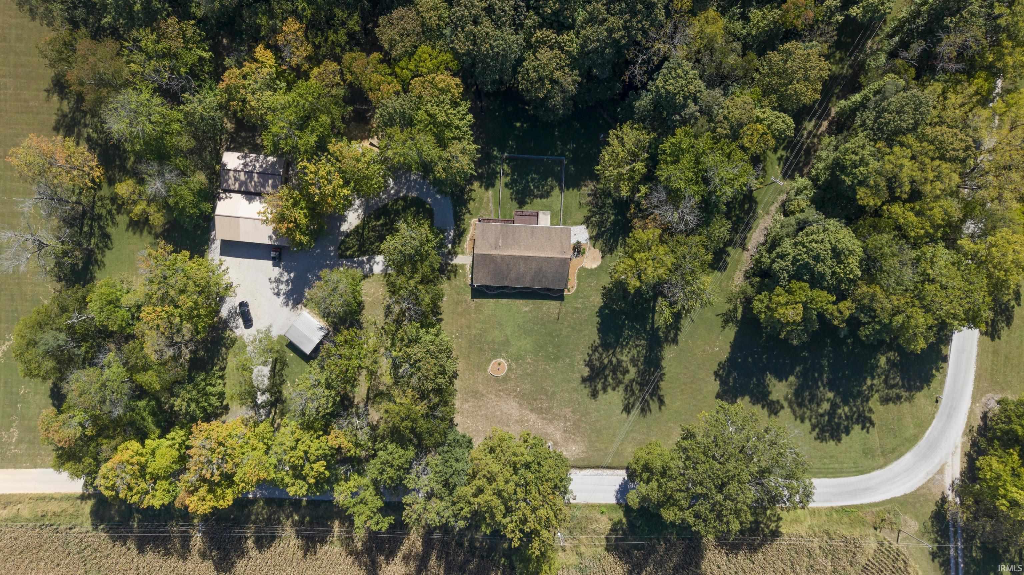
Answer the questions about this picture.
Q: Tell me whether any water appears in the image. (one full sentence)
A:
No, there is no water in the image.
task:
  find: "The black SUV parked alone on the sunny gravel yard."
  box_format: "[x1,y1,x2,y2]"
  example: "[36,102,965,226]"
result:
[237,301,255,330]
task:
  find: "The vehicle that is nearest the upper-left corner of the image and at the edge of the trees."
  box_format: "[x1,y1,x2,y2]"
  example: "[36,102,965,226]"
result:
[270,246,282,262]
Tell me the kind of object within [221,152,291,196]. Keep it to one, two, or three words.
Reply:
barn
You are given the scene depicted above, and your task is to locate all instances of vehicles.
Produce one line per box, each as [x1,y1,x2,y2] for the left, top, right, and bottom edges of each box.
[237,301,255,330]
[270,246,282,262]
